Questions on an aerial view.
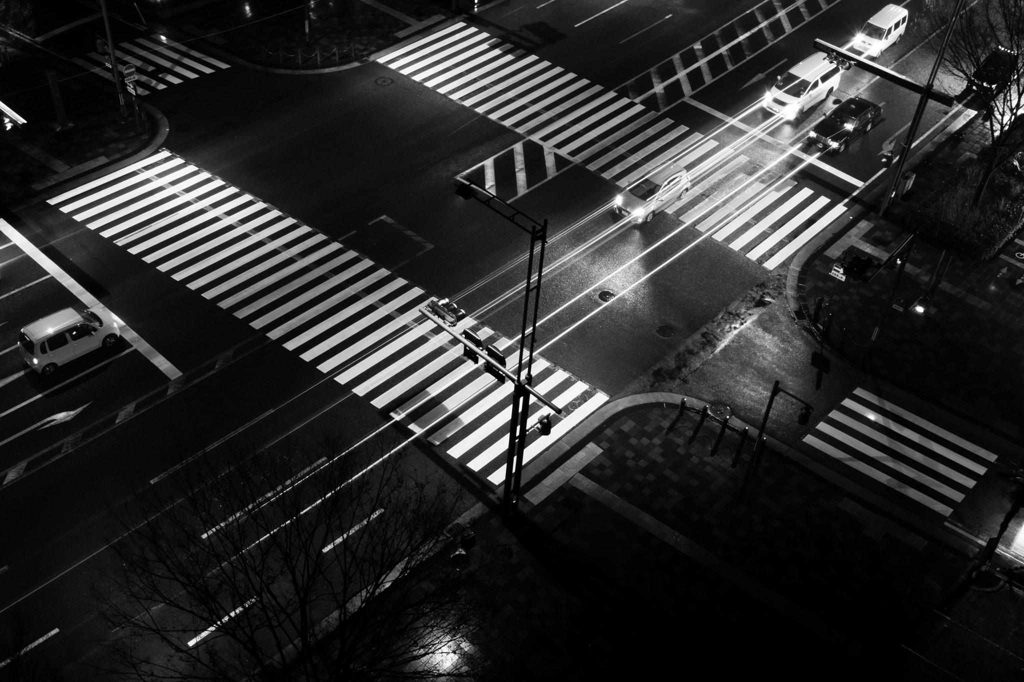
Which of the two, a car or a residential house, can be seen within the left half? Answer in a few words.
car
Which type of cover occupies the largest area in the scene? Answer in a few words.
paved ground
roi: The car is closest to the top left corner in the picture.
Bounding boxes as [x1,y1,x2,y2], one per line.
[15,302,119,376]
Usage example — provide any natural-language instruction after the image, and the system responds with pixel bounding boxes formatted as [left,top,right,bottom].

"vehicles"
[803,89,884,150]
[847,0,917,54]
[15,302,119,376]
[756,49,838,118]
[611,154,694,223]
